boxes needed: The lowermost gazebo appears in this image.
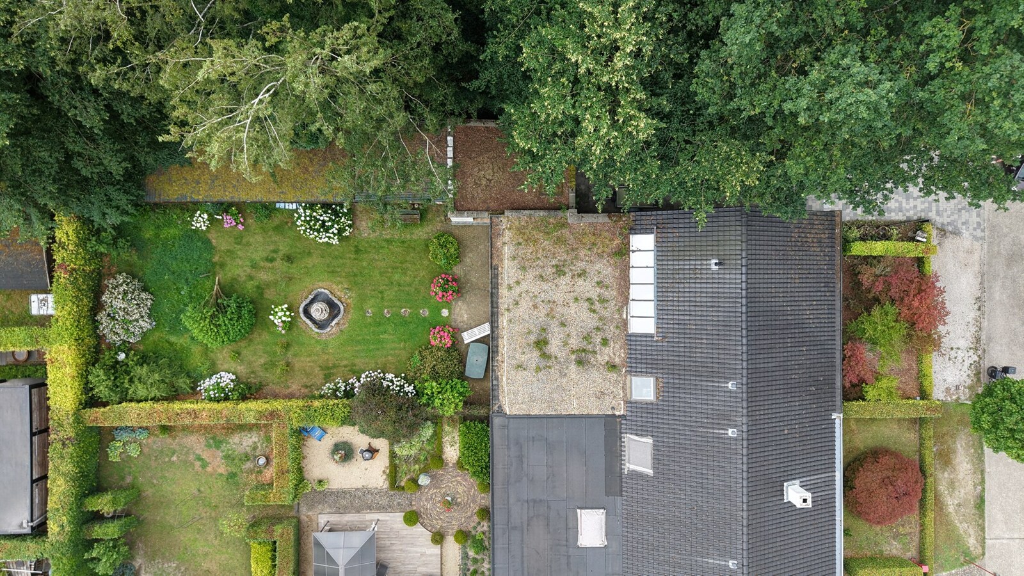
[313,519,379,576]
